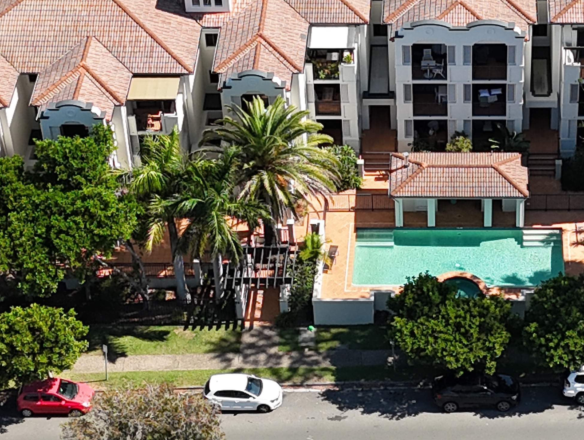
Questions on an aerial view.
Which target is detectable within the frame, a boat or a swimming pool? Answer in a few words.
swimming pool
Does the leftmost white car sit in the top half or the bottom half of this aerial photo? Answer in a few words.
bottom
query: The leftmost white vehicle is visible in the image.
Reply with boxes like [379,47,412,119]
[195,370,282,412]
